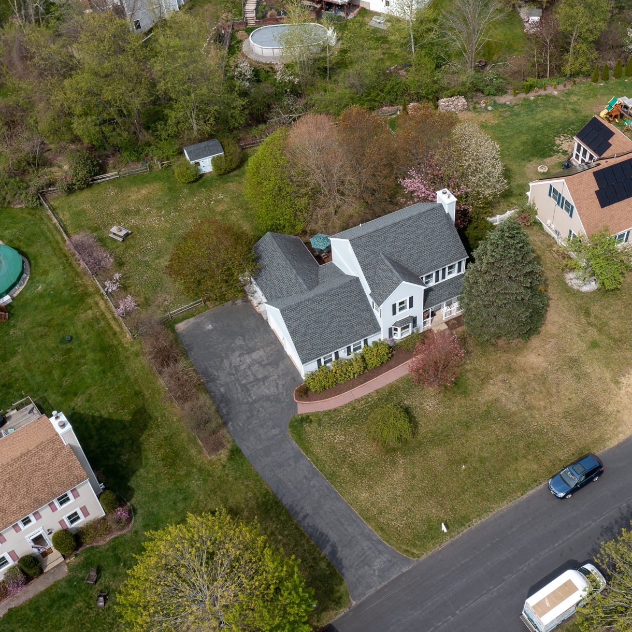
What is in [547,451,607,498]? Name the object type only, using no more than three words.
car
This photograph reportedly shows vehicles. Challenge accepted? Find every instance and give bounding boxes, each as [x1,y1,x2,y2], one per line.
[547,451,607,498]
[516,563,609,632]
